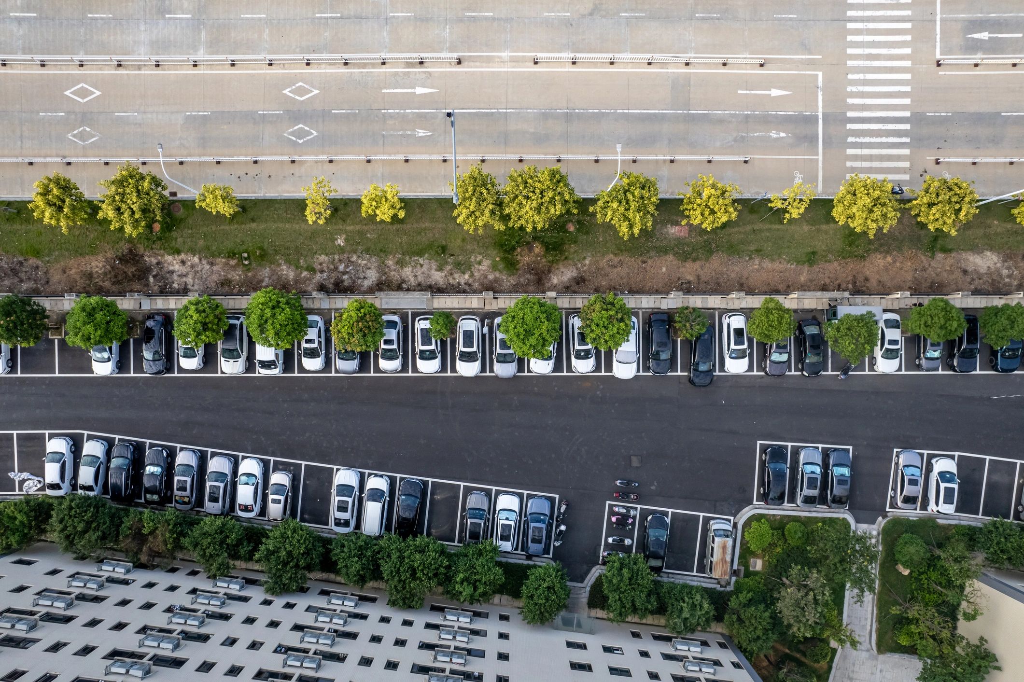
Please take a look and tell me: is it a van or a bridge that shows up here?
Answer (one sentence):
The one in the frame is a van.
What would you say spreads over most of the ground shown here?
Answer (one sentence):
Most of the picture is covered by paved ground.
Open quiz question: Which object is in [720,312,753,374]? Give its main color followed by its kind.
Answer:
white car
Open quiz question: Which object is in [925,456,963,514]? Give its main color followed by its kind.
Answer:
white car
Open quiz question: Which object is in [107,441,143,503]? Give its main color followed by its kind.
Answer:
black car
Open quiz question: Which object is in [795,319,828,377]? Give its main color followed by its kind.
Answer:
black car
